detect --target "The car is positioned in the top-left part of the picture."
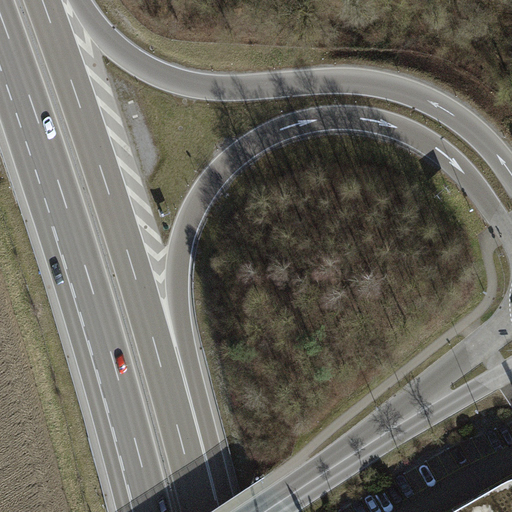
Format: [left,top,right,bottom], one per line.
[42,116,56,140]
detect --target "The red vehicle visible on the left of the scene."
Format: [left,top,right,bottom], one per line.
[115,354,128,375]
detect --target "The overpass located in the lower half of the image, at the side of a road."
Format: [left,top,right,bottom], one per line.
[212,454,332,512]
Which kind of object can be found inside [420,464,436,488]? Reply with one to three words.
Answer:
car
